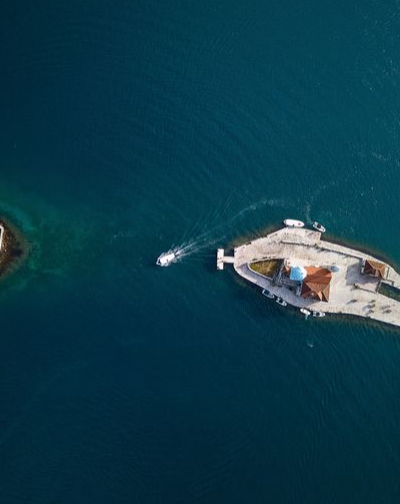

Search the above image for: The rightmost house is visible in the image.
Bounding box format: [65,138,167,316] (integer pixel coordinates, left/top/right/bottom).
[361,260,385,279]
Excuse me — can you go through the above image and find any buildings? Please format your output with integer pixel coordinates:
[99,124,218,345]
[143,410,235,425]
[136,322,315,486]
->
[283,266,331,302]
[361,260,385,279]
